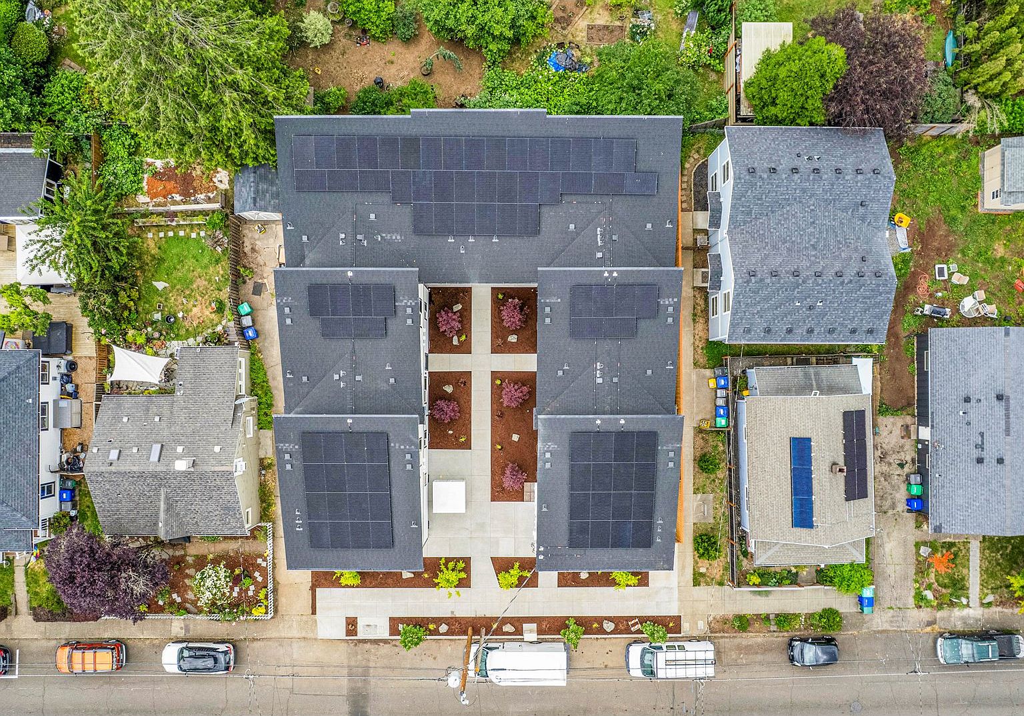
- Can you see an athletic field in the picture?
No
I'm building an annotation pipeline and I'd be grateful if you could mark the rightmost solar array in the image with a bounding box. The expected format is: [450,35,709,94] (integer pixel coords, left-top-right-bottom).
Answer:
[844,410,869,501]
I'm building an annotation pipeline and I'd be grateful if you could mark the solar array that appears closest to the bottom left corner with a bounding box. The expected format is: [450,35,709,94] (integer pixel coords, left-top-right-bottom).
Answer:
[300,434,394,554]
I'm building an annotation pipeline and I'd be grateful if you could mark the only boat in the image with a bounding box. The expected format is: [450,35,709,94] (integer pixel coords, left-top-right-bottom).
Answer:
[941,30,956,67]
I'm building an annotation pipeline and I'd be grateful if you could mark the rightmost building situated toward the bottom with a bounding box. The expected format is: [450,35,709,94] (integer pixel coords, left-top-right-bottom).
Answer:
[916,328,1024,538]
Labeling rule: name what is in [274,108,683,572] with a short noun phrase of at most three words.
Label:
building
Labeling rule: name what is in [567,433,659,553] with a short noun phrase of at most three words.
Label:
solar array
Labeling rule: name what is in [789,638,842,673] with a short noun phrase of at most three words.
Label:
car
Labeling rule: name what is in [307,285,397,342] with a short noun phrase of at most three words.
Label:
solar array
